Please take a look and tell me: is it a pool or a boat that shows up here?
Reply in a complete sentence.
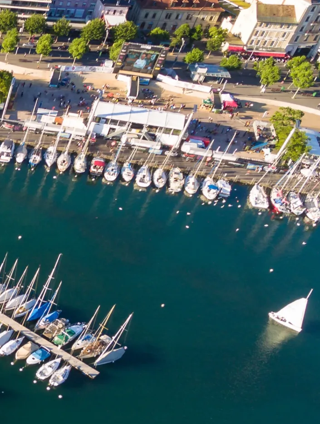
There is a boat in the scene.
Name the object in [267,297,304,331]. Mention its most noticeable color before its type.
white boat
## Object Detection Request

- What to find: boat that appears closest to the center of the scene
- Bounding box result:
[168,174,184,197]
